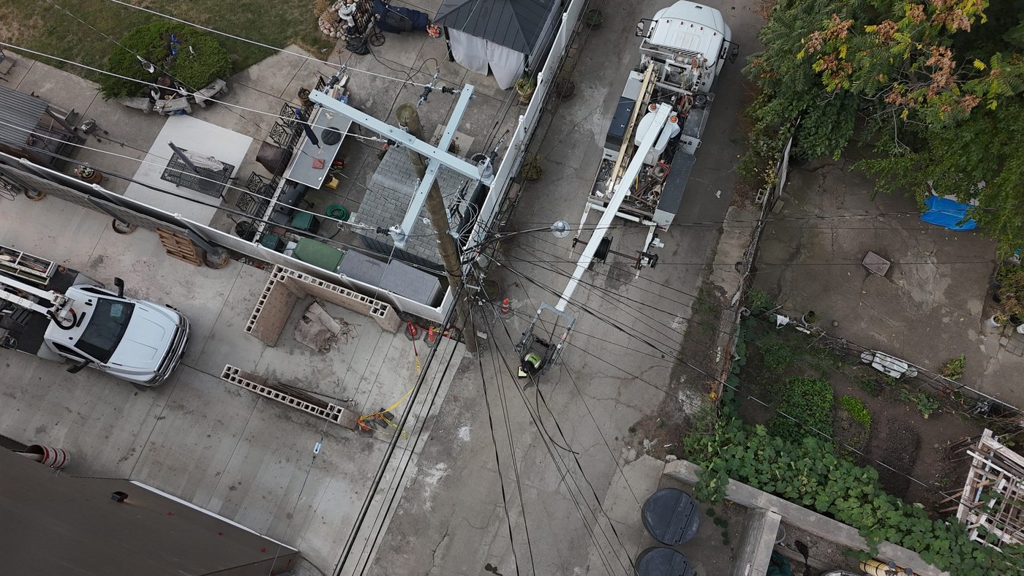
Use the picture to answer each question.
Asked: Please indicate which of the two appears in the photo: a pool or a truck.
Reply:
truck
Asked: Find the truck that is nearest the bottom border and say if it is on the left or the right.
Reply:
left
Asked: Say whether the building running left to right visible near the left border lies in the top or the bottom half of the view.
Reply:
bottom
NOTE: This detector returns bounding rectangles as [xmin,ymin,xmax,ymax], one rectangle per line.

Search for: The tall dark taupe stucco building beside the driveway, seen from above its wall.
[0,427,299,576]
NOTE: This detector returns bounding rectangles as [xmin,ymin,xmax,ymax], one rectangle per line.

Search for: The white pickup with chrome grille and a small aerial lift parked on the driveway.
[0,242,193,392]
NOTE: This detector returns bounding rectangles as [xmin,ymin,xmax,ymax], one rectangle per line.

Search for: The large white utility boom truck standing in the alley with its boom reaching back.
[515,4,740,389]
